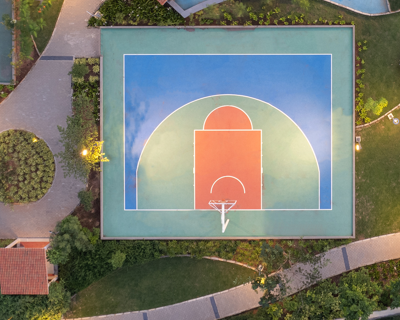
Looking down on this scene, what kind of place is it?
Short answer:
sports ground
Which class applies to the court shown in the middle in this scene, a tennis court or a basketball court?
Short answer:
basketball court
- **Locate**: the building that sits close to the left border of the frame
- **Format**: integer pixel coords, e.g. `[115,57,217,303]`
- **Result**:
[0,237,58,295]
